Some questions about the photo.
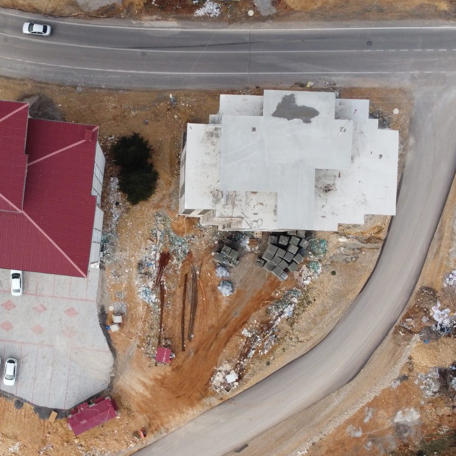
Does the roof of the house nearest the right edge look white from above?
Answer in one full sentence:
Yes, the roof of the house nearest the right edge appears white.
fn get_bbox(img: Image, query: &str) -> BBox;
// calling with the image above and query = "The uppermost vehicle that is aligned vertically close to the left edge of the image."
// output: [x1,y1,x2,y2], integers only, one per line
[11,268,24,295]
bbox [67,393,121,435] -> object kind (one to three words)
shed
